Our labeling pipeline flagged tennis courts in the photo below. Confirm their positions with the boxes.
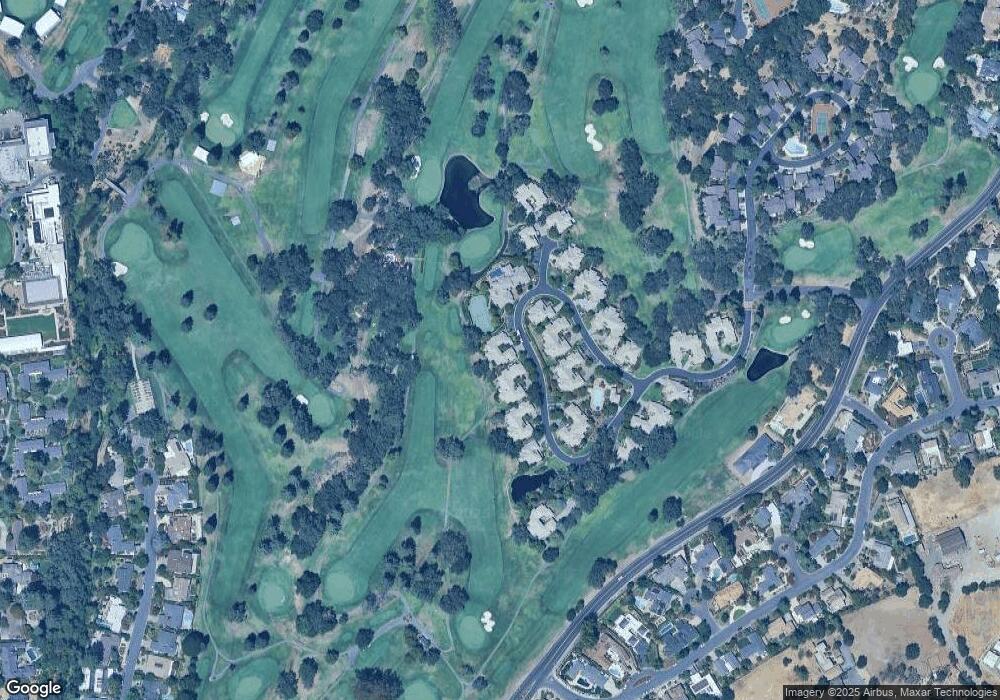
[812,103,837,137]
[470,295,494,333]
[746,0,794,27]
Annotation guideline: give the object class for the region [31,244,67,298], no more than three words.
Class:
building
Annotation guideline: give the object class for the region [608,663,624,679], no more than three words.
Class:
swimming pool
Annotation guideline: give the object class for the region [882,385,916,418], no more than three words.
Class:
house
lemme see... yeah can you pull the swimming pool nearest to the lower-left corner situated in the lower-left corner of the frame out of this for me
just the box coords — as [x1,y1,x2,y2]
[25,647,40,663]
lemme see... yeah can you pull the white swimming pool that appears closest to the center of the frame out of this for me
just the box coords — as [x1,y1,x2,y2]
[591,378,605,412]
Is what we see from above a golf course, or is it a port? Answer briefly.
golf course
